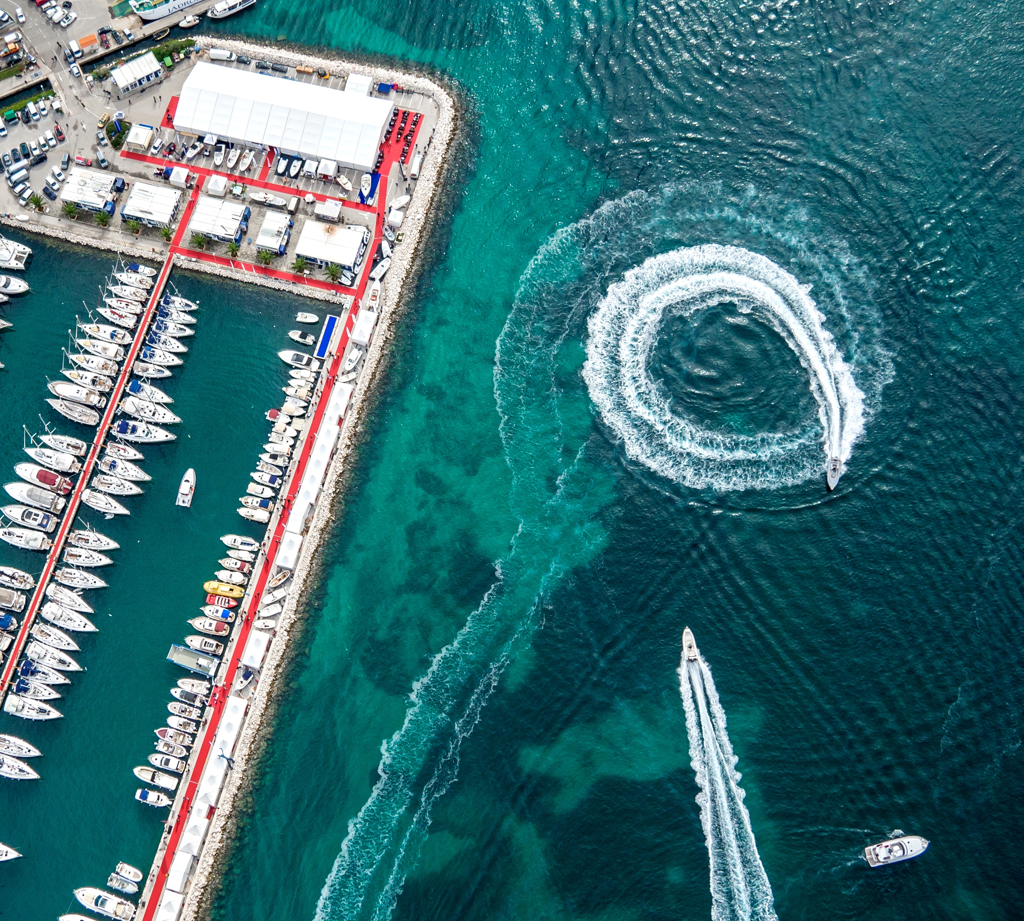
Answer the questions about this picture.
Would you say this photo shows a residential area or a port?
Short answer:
port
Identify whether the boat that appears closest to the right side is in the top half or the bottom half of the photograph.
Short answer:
bottom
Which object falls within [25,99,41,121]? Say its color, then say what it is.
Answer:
white vehicle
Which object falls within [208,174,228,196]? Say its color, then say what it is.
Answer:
white tent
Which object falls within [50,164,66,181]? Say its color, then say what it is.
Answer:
white car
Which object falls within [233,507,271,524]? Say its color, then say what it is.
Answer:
white boat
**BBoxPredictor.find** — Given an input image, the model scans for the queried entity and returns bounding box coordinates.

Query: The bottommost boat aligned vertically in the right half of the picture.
[684,626,697,662]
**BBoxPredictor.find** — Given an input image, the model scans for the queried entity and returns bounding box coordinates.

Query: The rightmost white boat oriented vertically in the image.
[828,457,840,490]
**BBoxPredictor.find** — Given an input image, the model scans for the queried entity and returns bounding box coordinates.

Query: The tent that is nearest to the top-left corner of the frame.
[127,126,153,149]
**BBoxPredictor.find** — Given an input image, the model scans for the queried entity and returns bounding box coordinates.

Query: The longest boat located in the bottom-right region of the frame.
[860,837,932,868]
